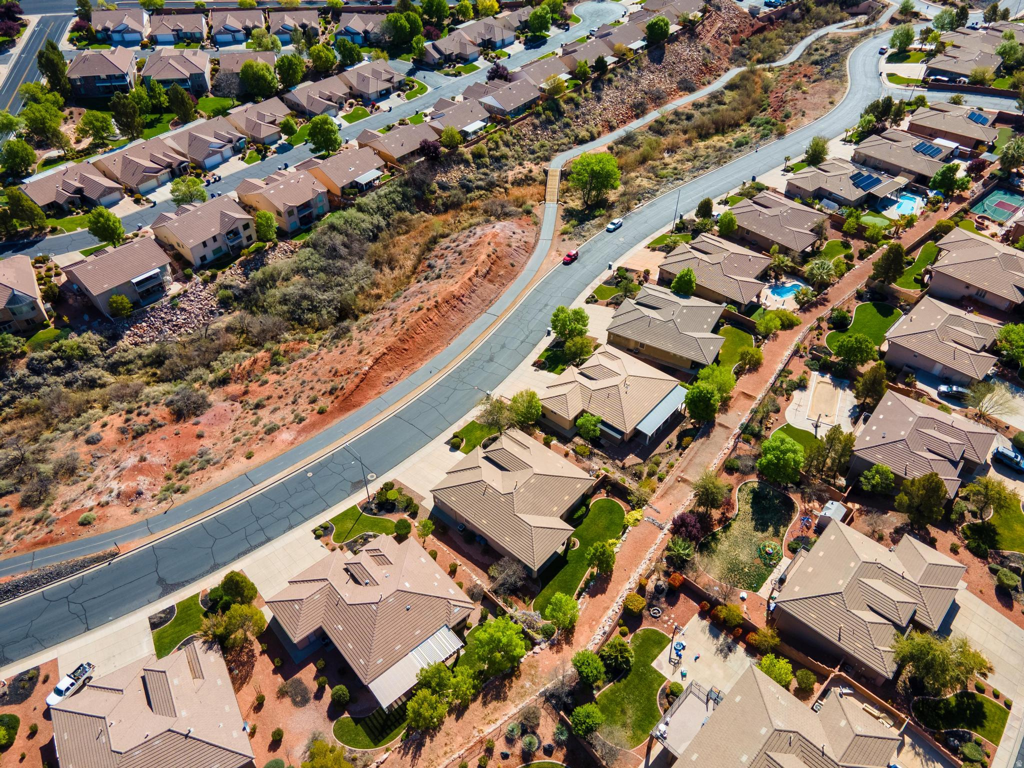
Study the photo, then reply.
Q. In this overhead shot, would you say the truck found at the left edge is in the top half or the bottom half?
bottom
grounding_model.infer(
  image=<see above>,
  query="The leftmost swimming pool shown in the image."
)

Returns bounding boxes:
[770,283,801,298]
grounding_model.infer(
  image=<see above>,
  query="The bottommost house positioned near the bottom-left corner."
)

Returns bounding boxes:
[49,639,256,768]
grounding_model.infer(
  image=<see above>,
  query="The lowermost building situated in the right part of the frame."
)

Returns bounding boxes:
[681,663,909,768]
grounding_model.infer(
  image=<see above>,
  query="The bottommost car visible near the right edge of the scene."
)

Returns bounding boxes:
[992,444,1024,472]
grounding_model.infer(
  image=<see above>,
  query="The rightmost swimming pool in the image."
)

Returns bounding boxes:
[896,195,916,214]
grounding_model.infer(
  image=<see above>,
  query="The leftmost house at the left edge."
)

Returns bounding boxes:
[0,255,48,337]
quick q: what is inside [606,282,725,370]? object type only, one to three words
house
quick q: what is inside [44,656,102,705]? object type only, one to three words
truck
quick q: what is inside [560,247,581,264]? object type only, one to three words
car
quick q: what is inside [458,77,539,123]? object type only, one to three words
house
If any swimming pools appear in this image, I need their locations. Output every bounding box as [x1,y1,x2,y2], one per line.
[896,195,916,214]
[770,283,801,298]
